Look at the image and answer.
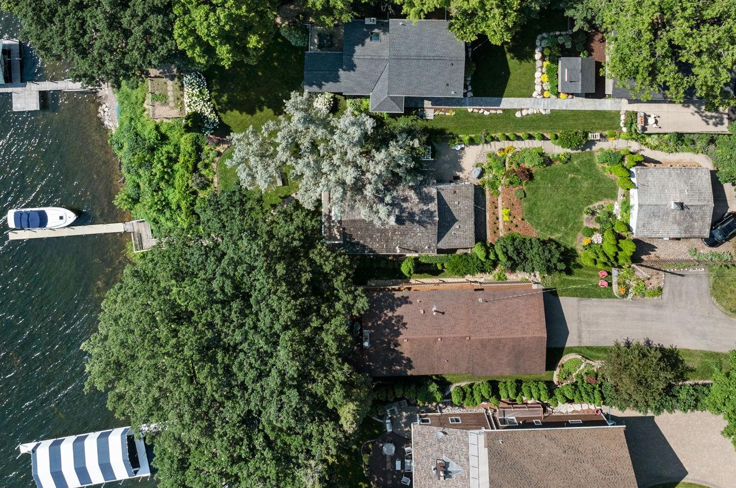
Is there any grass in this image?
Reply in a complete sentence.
Yes, there is grass in the image.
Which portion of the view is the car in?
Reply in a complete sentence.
The car sits in the right section of the image.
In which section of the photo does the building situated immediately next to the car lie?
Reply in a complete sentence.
The building situated immediately next to the car is in the right part of the image.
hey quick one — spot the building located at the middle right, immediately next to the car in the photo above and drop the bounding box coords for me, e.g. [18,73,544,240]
[630,166,715,239]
